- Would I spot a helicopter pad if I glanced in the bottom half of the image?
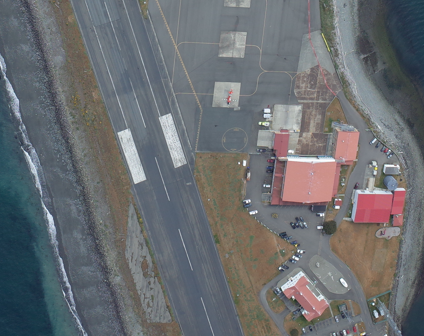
No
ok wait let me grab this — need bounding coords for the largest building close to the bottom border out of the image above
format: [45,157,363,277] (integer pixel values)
[282,272,329,321]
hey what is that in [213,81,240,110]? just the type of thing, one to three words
helipad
